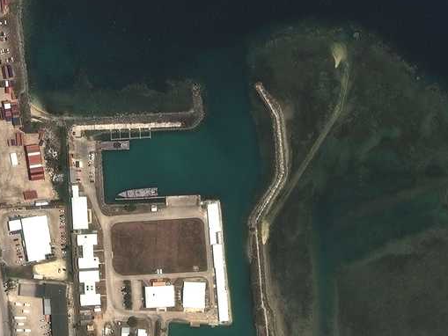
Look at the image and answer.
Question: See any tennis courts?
No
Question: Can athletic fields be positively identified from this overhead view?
Yes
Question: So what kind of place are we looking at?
port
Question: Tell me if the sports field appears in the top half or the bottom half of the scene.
bottom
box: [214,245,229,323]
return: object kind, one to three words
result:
shed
